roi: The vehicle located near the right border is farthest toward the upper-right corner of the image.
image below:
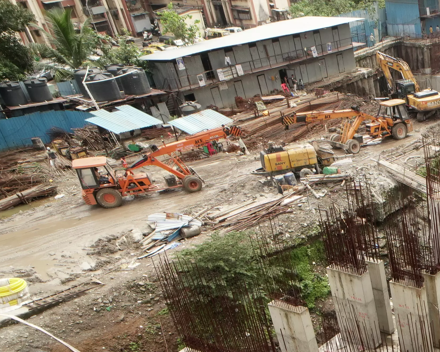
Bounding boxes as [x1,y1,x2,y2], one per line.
[378,50,440,120]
